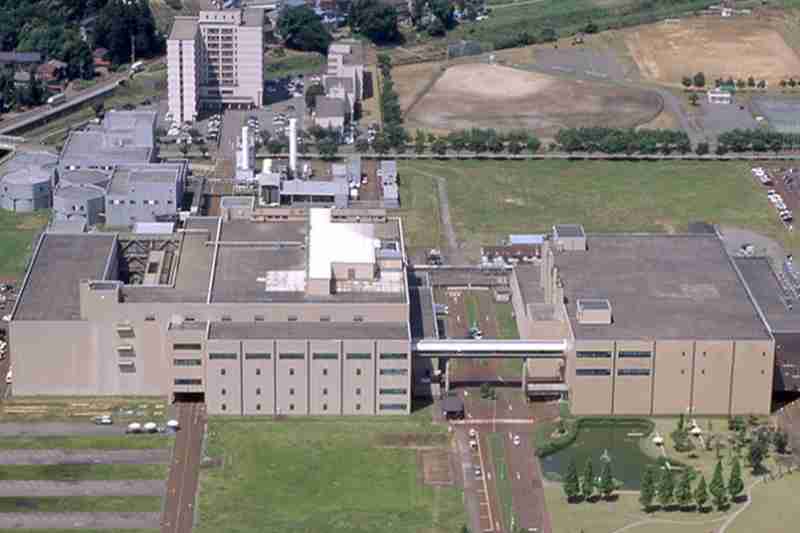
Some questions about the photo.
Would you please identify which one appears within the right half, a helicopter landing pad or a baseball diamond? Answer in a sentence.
The feature located within the right half is a baseball diamond.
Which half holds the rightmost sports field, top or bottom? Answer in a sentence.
Seen from above, the rightmost sports field lies in the top half of the view.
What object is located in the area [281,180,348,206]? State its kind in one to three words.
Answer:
shed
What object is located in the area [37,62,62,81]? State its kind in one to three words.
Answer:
house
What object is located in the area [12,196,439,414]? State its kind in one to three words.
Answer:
building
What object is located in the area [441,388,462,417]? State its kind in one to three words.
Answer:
building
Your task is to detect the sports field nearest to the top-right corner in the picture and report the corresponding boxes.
[624,20,800,89]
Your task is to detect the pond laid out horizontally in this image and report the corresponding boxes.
[542,421,684,488]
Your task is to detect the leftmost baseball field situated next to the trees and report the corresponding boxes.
[402,62,666,134]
